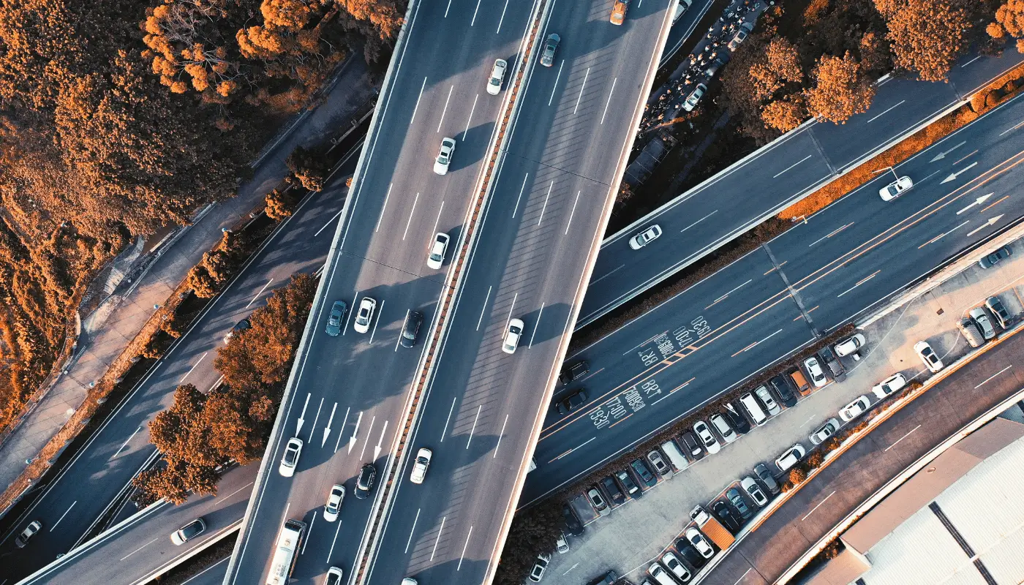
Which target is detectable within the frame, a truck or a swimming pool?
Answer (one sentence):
I can see a truck in this picture.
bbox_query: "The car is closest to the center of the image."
[502,317,523,354]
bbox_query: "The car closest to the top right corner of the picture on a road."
[876,176,912,201]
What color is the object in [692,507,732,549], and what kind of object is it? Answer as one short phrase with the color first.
orange truck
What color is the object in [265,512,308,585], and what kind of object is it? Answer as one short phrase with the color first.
white bus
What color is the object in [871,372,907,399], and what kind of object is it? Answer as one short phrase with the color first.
white car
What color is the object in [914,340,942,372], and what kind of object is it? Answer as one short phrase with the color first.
white car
